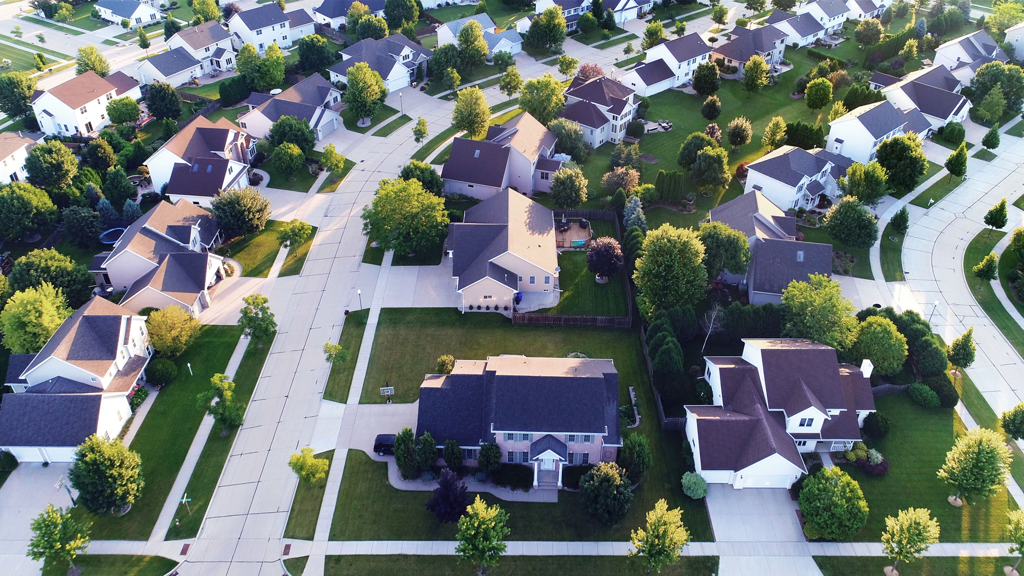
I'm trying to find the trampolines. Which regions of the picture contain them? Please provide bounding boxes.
[97,228,128,247]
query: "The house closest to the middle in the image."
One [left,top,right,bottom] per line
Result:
[448,187,560,310]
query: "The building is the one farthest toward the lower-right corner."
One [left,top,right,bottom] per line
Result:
[684,339,876,491]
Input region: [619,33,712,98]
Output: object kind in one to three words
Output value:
house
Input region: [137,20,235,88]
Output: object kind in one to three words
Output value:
house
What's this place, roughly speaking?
residential area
